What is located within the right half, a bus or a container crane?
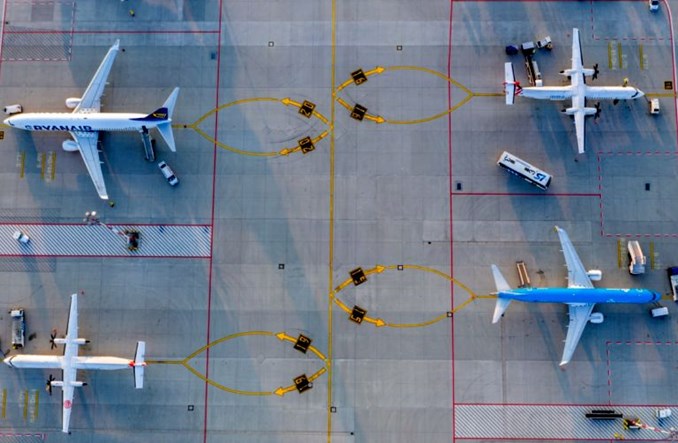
bus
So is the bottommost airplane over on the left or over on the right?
left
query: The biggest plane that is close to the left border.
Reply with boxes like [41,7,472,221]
[5,39,179,199]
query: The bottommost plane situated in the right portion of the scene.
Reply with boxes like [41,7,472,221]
[490,225,660,365]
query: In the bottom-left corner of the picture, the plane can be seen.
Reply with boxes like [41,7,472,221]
[5,296,152,432]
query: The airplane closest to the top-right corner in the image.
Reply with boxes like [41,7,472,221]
[503,31,644,154]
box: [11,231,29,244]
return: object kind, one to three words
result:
vehicle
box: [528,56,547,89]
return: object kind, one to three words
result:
work vehicle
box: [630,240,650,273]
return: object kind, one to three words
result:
vehicle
